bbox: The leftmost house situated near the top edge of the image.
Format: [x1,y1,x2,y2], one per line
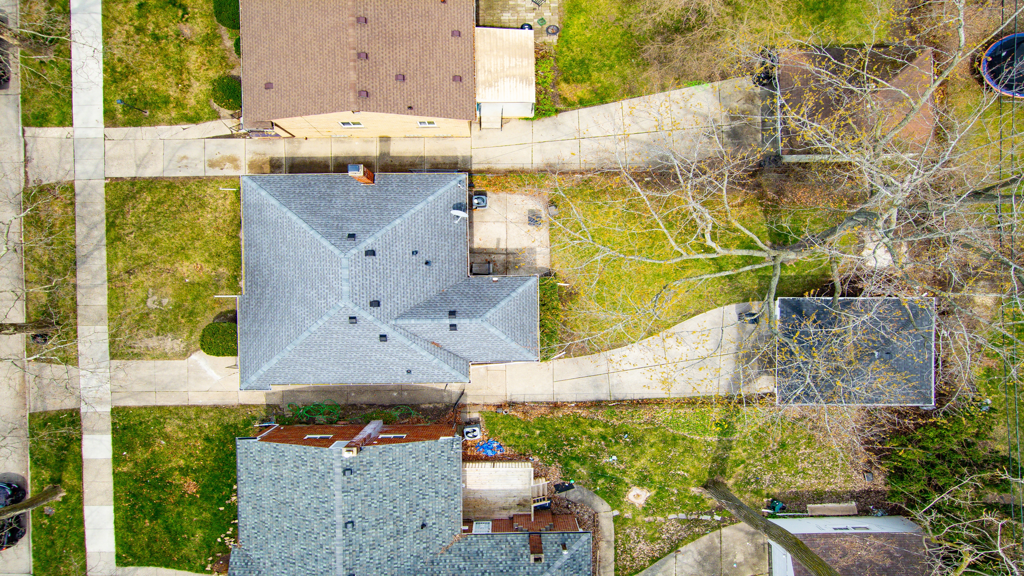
[230,0,480,140]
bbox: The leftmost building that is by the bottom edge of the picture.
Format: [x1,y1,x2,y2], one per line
[230,419,595,576]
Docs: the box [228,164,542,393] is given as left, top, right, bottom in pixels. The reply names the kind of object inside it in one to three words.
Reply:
house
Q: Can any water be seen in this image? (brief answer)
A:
No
